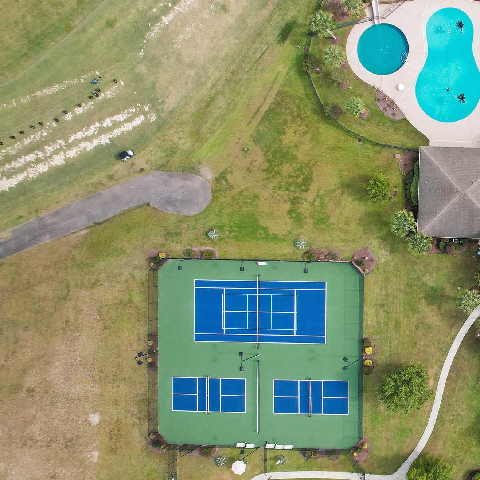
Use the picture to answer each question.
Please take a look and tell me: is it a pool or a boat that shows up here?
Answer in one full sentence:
This aerial view contains a pool.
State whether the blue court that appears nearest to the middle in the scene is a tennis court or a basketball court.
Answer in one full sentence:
In the photo, the blue court that appears nearest to the middle shows up as a tennis court.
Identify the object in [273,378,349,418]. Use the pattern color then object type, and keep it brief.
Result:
blue sports court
